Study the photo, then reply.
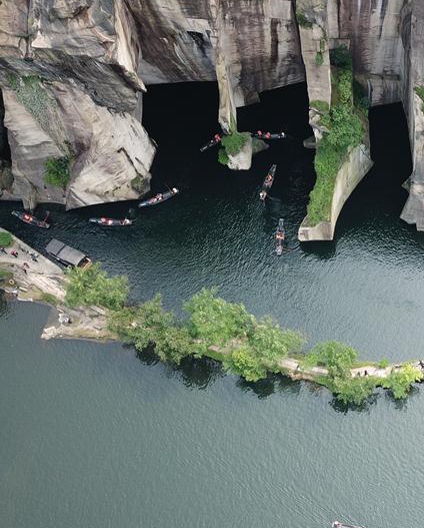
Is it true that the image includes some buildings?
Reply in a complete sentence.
No, the photo shows no building.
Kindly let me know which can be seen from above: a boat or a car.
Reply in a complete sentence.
Of the two, only a boat appears.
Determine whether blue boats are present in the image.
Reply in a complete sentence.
No, there is no blue boat in the image.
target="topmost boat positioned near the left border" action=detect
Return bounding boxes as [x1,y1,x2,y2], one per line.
[13,211,51,228]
